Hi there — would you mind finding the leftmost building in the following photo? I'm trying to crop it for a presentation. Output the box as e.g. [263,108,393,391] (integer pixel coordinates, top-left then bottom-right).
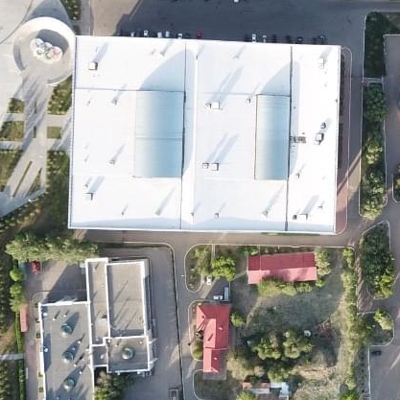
[38,255,158,400]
